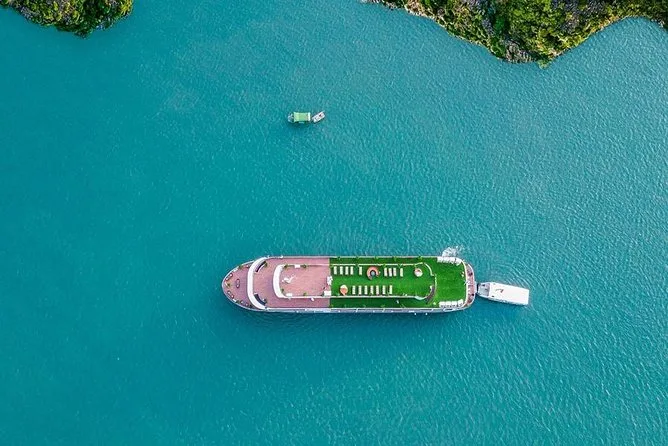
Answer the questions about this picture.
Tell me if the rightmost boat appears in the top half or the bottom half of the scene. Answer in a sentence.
The bottom half of the photo is where the rightmost boat is.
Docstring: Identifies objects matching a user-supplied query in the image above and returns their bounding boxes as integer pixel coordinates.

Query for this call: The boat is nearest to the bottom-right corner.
[476,284,528,306]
